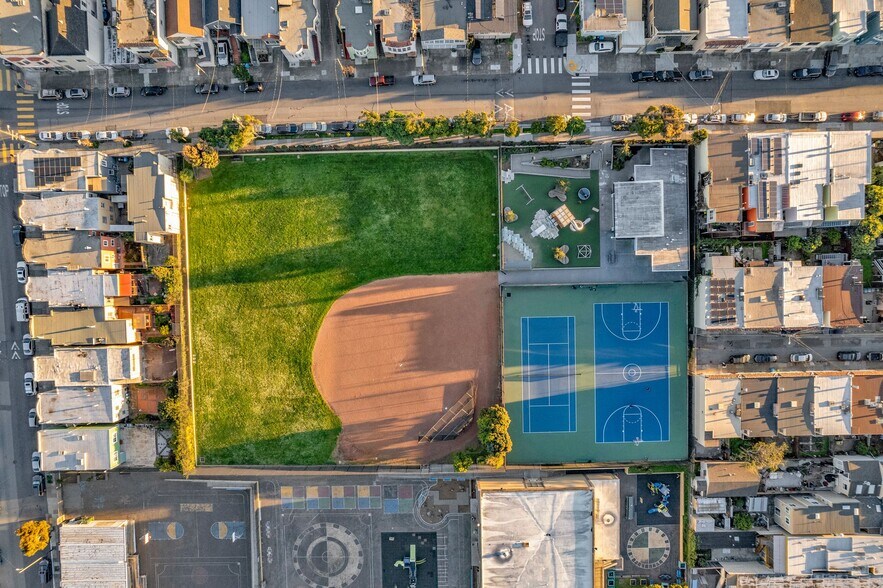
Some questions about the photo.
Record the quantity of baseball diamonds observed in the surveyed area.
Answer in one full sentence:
There is 1 baseball diamond in the image.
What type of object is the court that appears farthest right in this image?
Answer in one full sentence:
The court that appears farthest right is a basketball court.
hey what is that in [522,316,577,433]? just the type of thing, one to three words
tennis court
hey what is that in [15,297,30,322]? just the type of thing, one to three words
vehicle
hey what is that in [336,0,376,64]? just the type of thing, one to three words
house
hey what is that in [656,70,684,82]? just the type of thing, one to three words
vehicle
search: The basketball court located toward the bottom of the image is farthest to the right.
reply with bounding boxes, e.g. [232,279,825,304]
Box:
[594,302,670,443]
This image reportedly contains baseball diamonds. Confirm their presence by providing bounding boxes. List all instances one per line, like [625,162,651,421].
[187,152,499,464]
